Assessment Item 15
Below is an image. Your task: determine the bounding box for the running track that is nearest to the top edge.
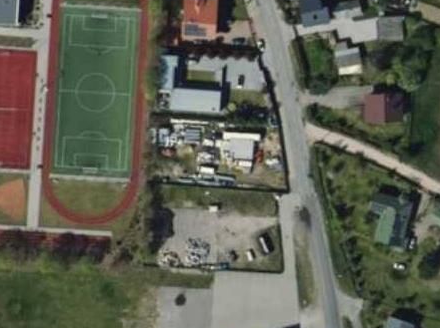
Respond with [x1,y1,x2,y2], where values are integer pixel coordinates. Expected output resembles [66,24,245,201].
[44,0,149,227]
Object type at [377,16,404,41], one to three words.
barn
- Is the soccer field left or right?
left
